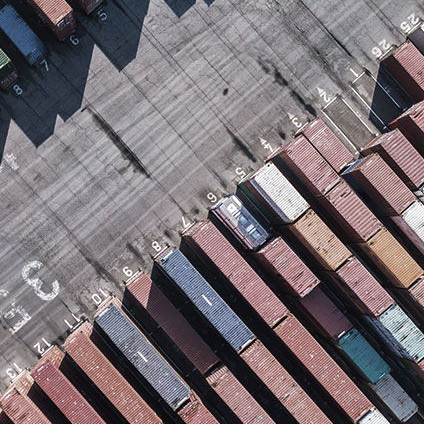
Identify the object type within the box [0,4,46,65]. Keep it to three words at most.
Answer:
shipping container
